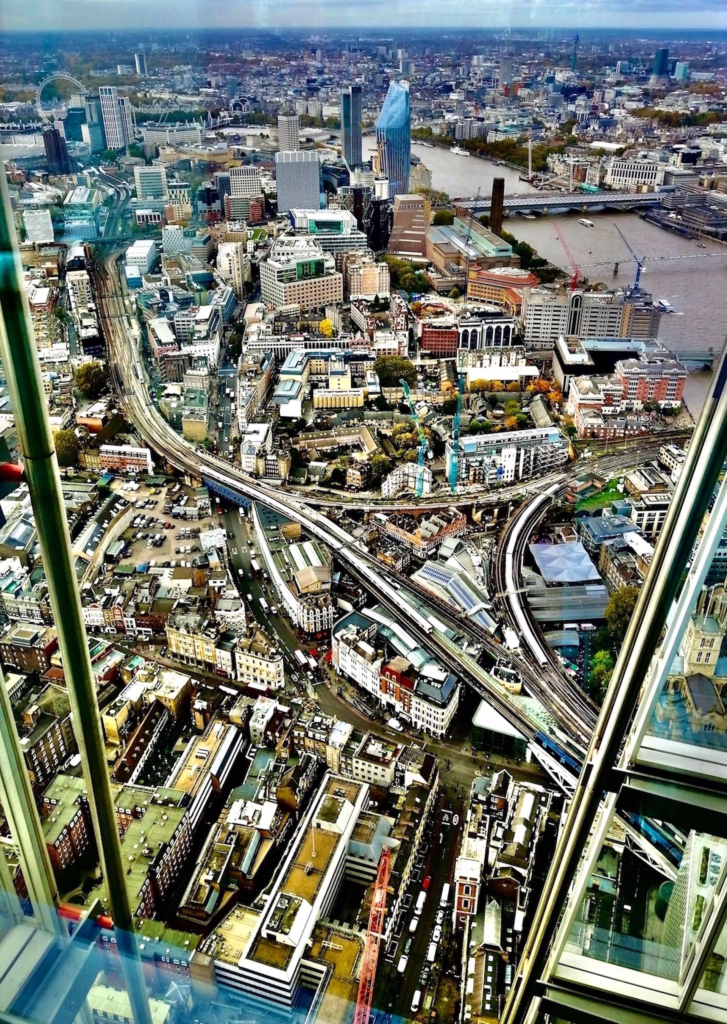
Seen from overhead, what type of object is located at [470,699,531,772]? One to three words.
building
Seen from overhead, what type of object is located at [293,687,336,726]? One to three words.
house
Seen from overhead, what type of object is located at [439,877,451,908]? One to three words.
vehicle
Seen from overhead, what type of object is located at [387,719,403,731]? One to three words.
vehicle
